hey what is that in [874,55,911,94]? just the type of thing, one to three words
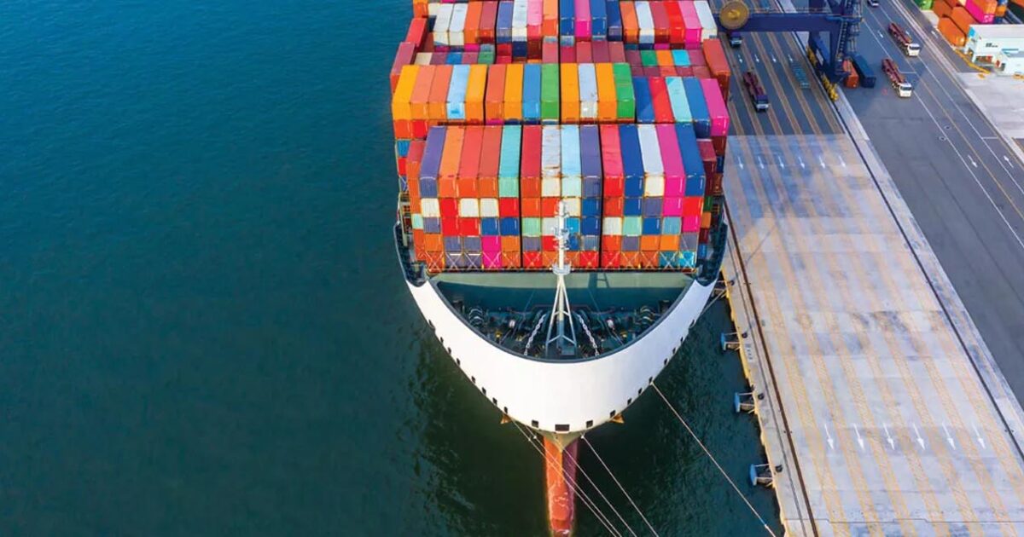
truck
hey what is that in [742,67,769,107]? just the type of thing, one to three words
truck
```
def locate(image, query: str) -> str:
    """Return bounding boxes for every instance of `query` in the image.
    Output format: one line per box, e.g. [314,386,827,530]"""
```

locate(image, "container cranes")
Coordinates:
[699,0,864,102]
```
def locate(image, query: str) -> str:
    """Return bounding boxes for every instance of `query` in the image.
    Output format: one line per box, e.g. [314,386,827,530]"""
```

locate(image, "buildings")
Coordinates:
[964,16,1024,75]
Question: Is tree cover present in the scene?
No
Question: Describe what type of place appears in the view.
port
